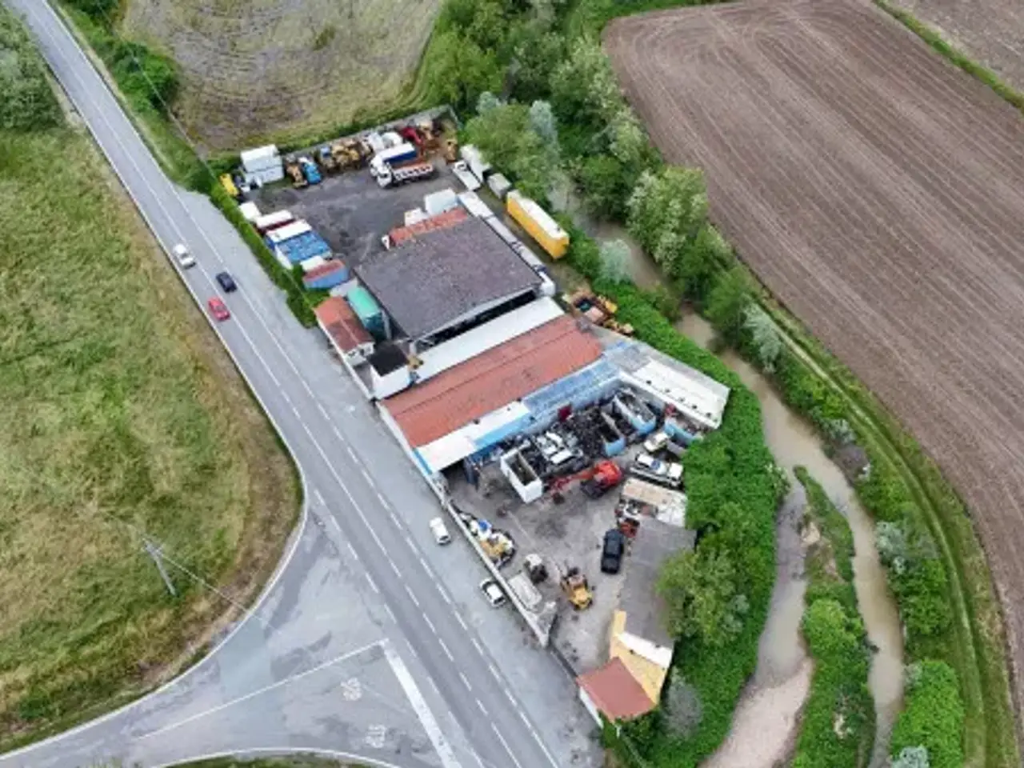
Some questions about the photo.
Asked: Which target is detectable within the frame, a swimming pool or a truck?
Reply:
truck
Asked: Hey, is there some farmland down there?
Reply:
Yes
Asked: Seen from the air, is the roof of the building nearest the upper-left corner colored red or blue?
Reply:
blue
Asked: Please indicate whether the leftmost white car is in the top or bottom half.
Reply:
top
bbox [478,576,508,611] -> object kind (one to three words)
car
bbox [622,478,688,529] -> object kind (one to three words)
shed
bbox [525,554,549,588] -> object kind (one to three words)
work vehicle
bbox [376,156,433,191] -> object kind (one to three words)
truck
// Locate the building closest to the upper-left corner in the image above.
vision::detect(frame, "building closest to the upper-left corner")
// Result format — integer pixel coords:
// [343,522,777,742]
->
[276,233,328,277]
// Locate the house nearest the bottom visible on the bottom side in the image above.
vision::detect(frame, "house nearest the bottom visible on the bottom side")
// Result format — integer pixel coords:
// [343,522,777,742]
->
[576,609,674,725]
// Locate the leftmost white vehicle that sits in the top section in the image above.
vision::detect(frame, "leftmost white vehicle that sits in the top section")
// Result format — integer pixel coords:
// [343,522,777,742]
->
[172,246,195,270]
